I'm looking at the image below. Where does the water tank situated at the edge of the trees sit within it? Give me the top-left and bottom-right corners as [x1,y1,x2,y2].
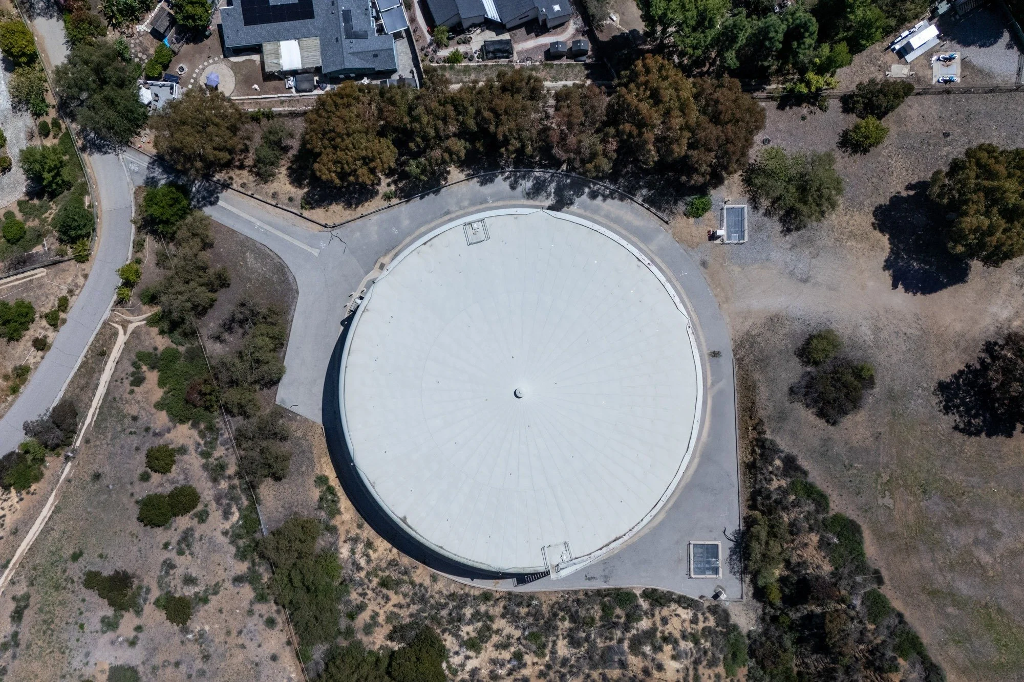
[339,208,702,582]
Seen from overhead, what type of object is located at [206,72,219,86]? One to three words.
umbrella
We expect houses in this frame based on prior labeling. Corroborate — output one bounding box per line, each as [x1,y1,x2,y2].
[217,0,399,79]
[429,0,572,33]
